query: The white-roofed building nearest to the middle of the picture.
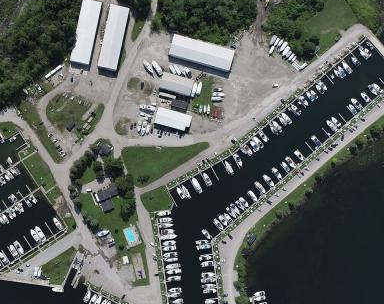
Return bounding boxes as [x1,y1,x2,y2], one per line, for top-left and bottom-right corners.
[155,107,192,133]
